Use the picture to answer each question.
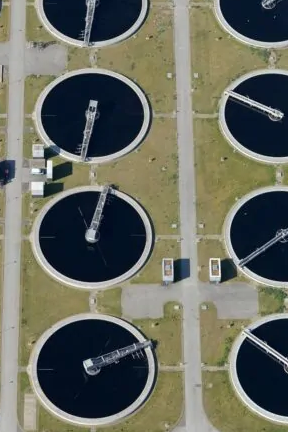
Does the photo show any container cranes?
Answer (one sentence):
No, the scene contains no container crane.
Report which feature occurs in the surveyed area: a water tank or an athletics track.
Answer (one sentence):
It is a water tank that can be seen here.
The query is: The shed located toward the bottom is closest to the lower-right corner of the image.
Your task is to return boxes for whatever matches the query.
[209,257,222,285]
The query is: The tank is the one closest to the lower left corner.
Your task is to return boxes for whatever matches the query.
[26,314,156,426]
